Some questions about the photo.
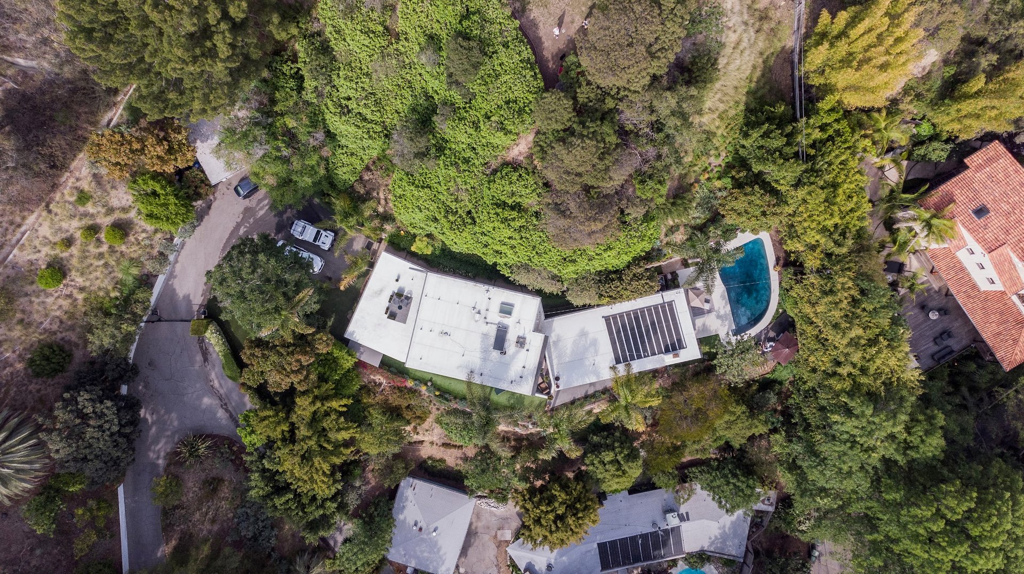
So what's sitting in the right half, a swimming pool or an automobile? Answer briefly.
swimming pool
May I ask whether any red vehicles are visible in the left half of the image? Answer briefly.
No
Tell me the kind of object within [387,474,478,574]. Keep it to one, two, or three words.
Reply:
house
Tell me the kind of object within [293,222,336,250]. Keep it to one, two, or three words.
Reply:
car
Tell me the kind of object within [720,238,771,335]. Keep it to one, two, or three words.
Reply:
swimming pool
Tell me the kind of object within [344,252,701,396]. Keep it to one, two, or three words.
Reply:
house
